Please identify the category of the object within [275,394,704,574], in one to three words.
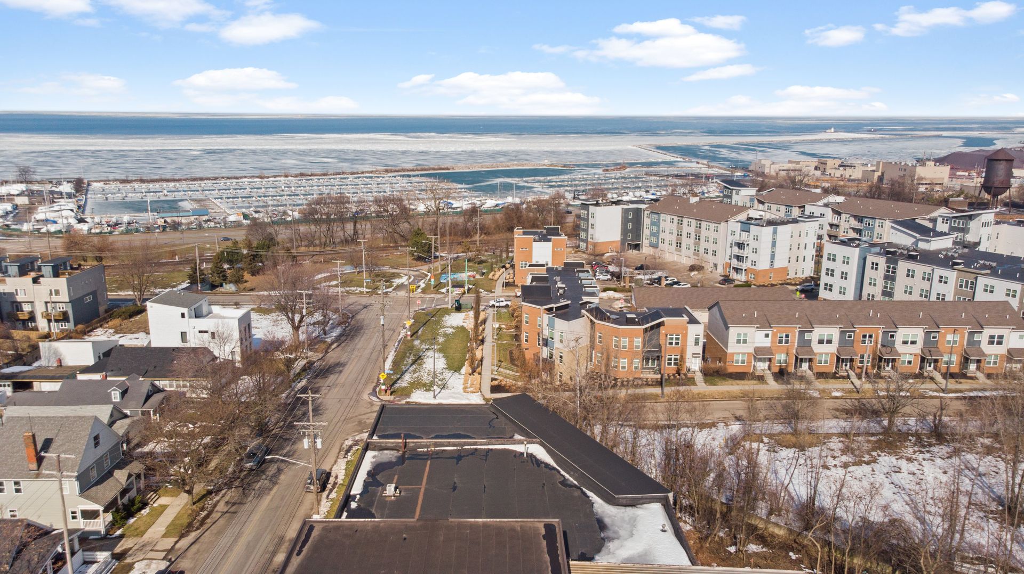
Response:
building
